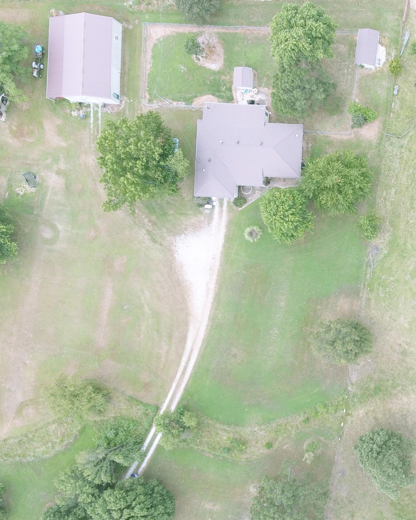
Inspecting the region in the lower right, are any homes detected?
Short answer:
No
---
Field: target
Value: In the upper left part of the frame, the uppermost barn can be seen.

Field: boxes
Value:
[46,12,121,103]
